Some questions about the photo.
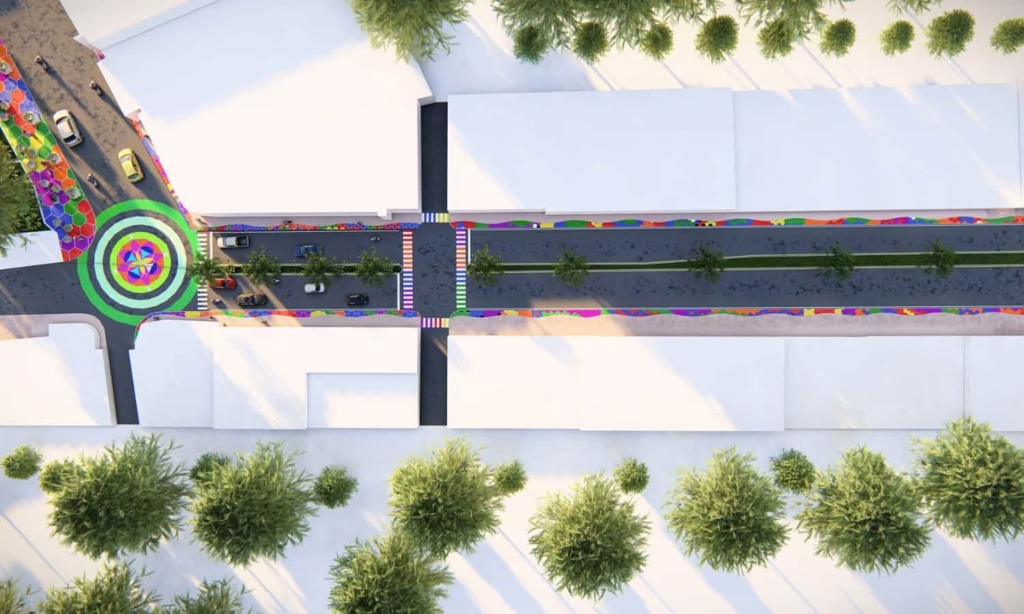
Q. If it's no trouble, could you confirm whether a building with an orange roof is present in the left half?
No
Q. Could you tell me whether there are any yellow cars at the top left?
Yes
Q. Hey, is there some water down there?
No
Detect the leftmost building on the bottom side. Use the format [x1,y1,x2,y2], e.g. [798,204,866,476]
[0,323,121,426]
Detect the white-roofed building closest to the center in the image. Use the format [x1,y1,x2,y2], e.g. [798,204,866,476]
[448,335,581,428]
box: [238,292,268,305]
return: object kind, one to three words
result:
vehicle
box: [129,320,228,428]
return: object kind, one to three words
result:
building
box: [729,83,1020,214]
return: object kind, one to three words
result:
building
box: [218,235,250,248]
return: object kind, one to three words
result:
vehicle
